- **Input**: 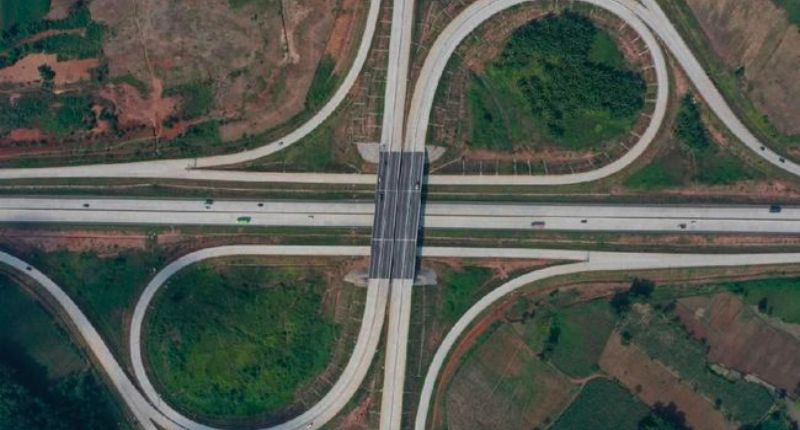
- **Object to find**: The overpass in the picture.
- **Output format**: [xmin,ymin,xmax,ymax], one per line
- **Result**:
[369,152,424,279]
